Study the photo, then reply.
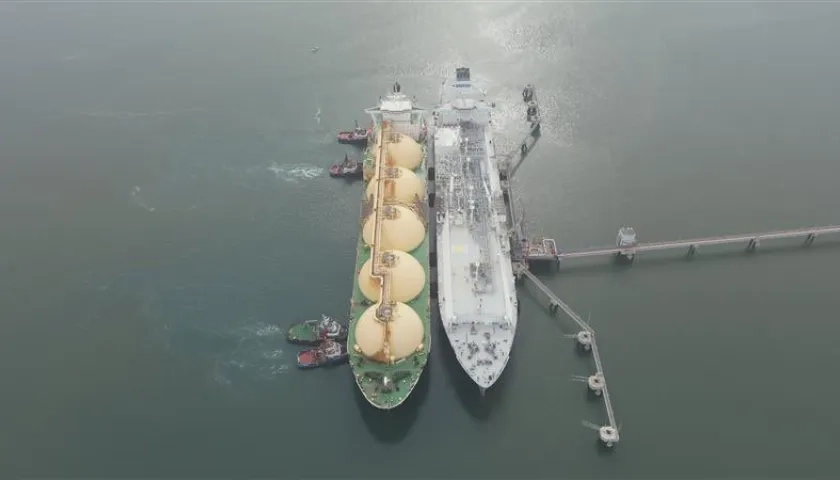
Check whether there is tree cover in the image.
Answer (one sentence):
No, the picture contains no tree cover.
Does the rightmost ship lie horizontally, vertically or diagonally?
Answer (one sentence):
The rightmost ship is oriented vertically.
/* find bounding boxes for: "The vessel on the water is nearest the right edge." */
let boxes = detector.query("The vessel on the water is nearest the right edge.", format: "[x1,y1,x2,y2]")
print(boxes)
[431,68,517,399]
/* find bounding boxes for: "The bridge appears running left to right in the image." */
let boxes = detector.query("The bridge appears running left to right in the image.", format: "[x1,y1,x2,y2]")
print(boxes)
[557,226,840,262]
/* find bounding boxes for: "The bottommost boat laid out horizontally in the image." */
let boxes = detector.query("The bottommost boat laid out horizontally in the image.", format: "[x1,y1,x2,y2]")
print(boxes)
[294,346,349,372]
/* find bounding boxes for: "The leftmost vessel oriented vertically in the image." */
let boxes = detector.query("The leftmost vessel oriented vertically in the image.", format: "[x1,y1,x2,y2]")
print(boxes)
[347,81,431,409]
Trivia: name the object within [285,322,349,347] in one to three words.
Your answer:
boat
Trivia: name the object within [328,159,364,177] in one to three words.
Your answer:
boat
